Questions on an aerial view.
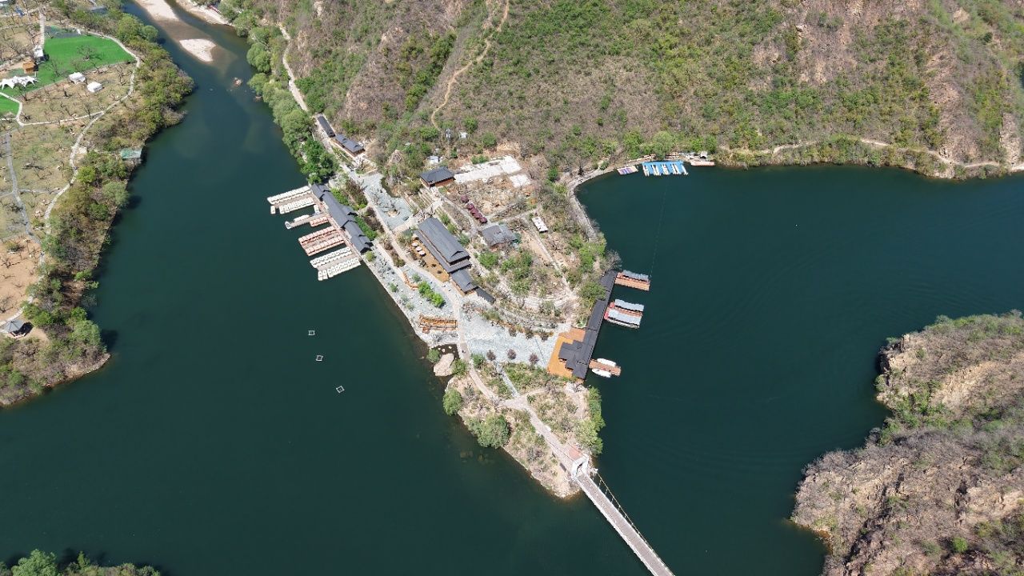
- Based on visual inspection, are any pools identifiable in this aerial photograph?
No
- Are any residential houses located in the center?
Yes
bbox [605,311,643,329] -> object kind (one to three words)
boat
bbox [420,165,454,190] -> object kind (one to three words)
house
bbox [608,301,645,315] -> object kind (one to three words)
boat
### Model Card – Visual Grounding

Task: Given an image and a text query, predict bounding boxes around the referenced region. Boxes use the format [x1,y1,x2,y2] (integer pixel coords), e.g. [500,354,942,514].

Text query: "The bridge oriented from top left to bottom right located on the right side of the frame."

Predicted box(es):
[556,447,674,576]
